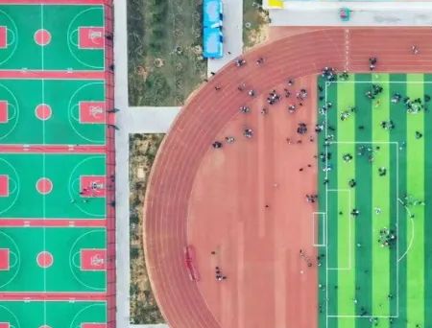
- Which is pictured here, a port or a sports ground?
sports ground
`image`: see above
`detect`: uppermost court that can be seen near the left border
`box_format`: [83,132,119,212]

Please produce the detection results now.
[0,4,104,71]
